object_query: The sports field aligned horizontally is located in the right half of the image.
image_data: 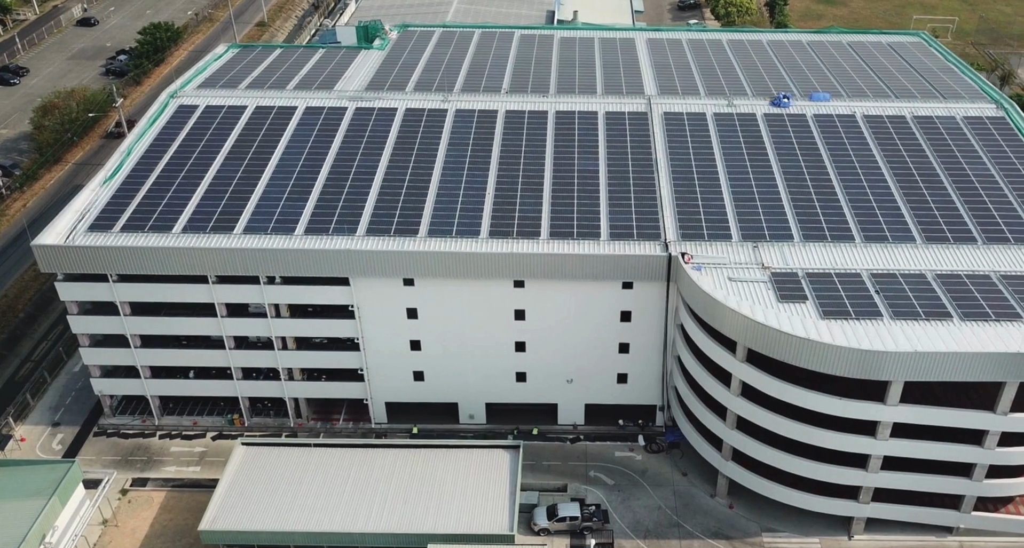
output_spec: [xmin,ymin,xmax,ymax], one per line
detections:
[731,0,1024,75]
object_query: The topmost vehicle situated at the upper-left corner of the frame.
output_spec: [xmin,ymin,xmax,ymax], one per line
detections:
[71,13,100,26]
